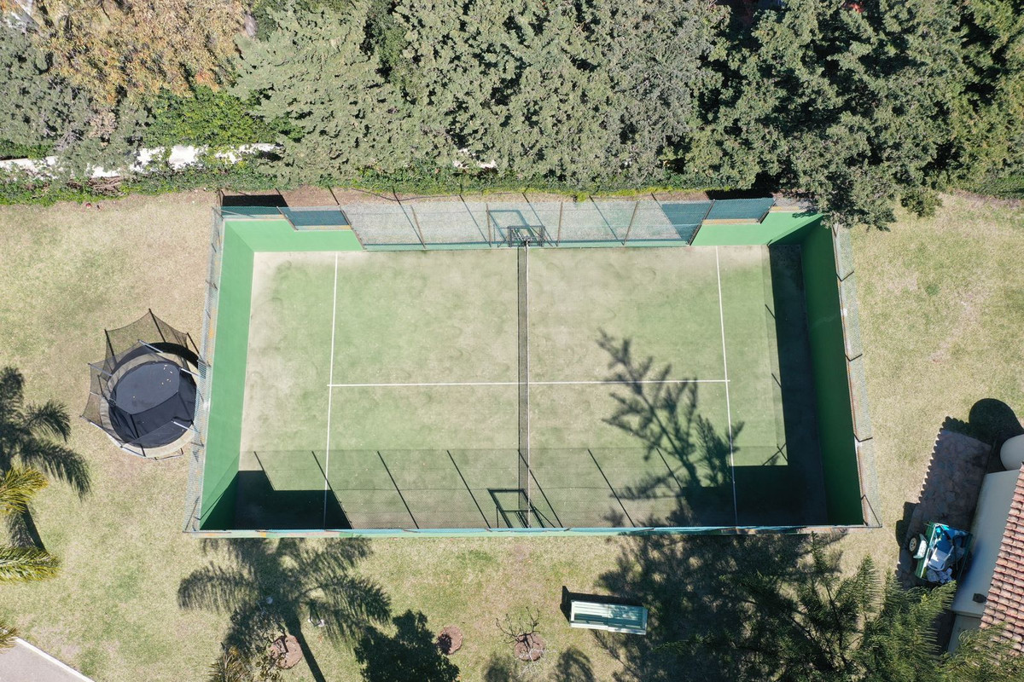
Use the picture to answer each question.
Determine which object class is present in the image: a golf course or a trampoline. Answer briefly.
trampoline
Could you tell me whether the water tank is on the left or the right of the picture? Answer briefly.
right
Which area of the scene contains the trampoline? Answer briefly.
left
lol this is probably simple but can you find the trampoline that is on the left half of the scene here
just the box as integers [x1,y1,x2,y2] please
[77,339,205,458]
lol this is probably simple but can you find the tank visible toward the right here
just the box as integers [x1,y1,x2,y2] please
[988,422,1024,466]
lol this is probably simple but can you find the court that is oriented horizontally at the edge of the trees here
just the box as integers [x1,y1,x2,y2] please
[235,244,828,529]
